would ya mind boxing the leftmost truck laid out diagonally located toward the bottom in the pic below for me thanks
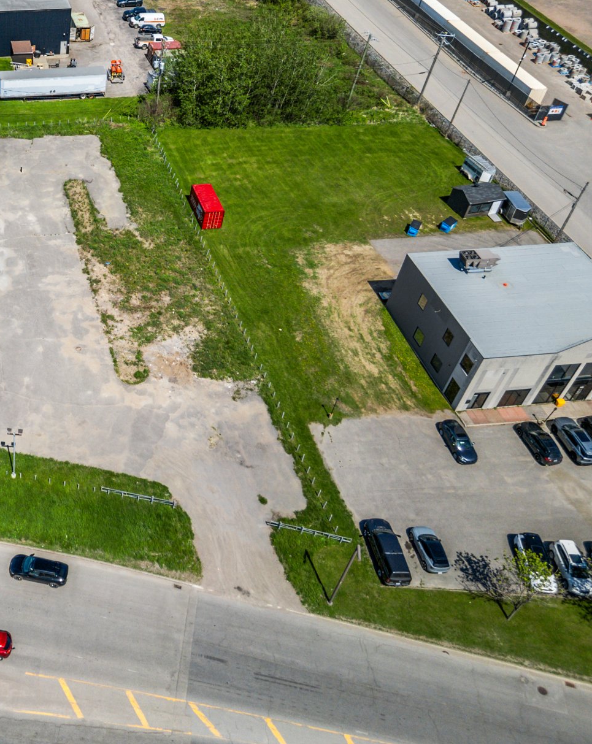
[359,519,417,590]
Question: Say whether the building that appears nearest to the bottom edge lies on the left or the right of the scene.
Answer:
right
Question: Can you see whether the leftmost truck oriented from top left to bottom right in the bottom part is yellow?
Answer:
No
